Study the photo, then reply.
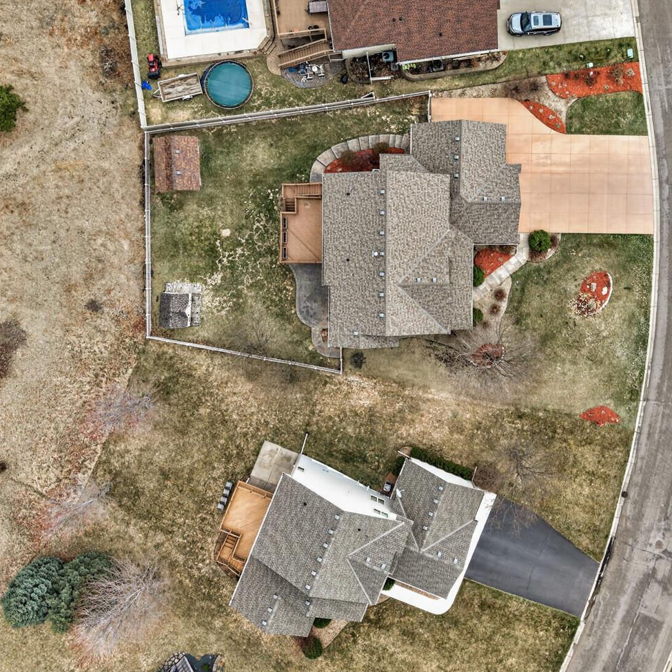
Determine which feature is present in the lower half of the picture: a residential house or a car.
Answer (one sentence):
What appears in the lower half of the picture is a residential house.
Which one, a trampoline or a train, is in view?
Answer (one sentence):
Looking from above, you can make out a trampoline.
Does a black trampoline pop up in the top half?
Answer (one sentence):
No, I can find no black trampoline in the top half.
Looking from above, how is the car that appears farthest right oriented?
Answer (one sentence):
What the image shows is the car that appears farthest right lying horizontally.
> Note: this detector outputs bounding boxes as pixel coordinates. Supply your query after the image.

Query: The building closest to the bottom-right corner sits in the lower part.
[229,434,485,636]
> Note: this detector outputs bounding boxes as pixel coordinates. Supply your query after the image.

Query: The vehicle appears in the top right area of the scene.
[507,8,563,37]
